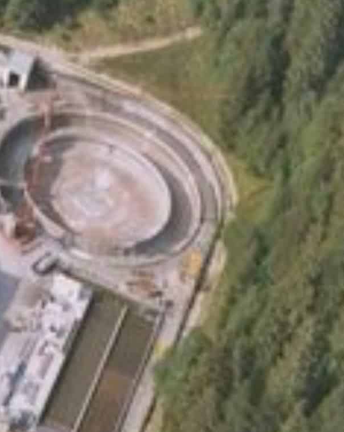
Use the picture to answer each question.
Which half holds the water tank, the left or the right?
left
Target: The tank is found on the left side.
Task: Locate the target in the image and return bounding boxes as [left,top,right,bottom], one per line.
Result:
[43,277,169,432]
